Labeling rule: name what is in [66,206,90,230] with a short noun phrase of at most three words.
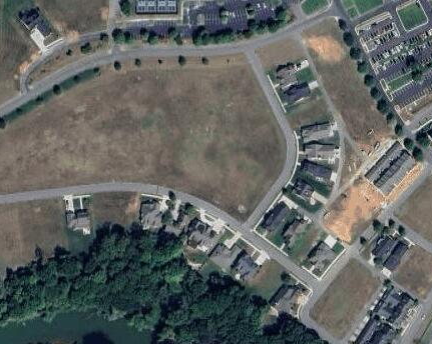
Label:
house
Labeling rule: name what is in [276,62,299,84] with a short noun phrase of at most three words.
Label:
house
